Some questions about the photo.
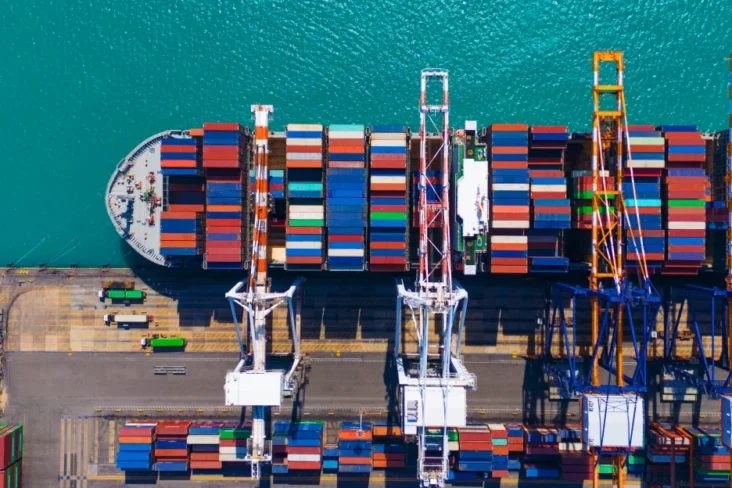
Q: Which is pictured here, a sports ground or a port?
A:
port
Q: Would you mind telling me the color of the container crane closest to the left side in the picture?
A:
white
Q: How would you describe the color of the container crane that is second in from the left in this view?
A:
white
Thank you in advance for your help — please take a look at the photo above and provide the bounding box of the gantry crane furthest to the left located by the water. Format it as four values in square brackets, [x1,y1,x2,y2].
[224,104,320,474]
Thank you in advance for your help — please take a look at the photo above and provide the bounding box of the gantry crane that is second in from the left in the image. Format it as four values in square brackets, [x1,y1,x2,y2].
[380,69,482,484]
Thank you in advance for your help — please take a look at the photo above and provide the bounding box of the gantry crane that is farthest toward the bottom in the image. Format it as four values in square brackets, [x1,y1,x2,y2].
[659,433,701,488]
